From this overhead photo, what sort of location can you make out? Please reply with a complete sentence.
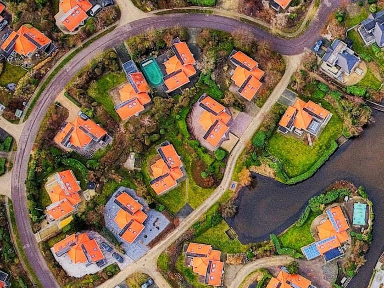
This looks like a residential area.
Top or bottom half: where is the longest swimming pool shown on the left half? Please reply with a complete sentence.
You can find the longest swimming pool shown on the left half in the top half.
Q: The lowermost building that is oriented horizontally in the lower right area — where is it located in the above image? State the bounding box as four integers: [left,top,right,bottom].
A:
[261,265,316,288]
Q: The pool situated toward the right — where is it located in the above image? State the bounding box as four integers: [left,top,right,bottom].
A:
[352,202,366,226]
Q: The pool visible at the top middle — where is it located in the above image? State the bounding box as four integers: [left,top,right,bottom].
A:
[140,57,164,88]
